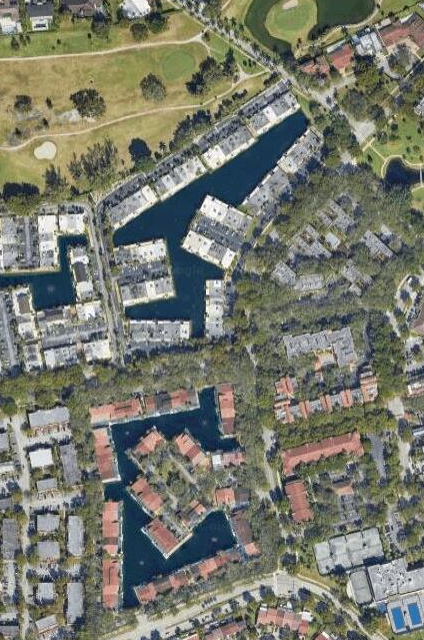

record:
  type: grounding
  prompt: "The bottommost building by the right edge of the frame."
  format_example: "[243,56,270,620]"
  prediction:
[367,557,424,600]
